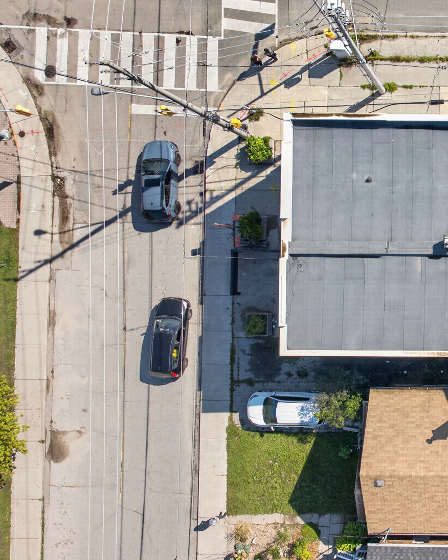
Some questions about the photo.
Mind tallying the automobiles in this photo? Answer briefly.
three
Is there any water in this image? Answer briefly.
No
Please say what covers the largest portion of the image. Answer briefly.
paved ground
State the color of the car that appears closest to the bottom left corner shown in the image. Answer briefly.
black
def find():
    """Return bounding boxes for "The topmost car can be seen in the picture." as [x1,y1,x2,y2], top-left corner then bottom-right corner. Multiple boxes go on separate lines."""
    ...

[135,141,182,224]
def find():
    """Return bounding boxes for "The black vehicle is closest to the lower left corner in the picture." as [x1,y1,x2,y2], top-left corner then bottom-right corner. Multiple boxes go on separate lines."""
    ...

[144,296,190,380]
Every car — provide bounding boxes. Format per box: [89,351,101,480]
[144,296,190,380]
[135,141,182,224]
[247,391,332,432]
